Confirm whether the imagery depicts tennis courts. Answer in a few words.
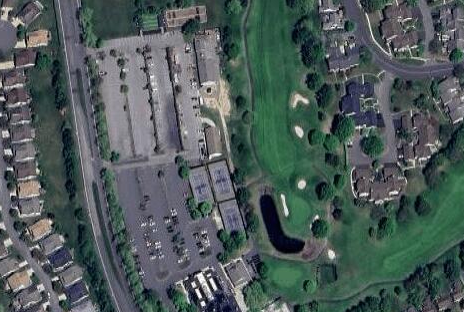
Yes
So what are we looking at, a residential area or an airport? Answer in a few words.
residential area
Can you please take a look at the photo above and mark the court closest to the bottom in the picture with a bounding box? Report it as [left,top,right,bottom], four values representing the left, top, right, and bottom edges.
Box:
[222,201,244,232]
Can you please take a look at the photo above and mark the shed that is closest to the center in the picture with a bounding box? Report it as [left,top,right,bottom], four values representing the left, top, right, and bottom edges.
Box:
[205,122,222,158]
